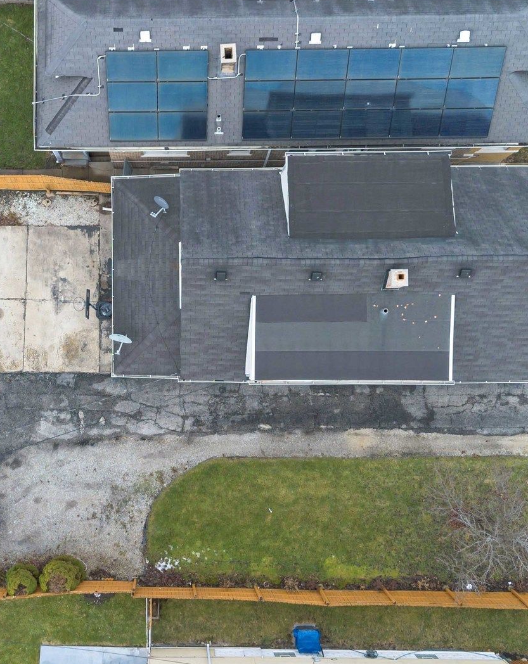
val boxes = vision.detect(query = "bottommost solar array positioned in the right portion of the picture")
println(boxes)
[239,39,505,140]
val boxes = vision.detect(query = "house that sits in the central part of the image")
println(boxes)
[105,152,528,386]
